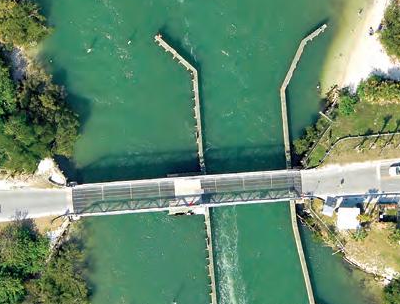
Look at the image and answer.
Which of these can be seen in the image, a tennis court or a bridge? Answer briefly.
bridge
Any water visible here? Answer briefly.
Yes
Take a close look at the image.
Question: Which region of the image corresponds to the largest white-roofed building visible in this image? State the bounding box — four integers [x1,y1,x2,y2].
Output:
[336,207,359,228]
